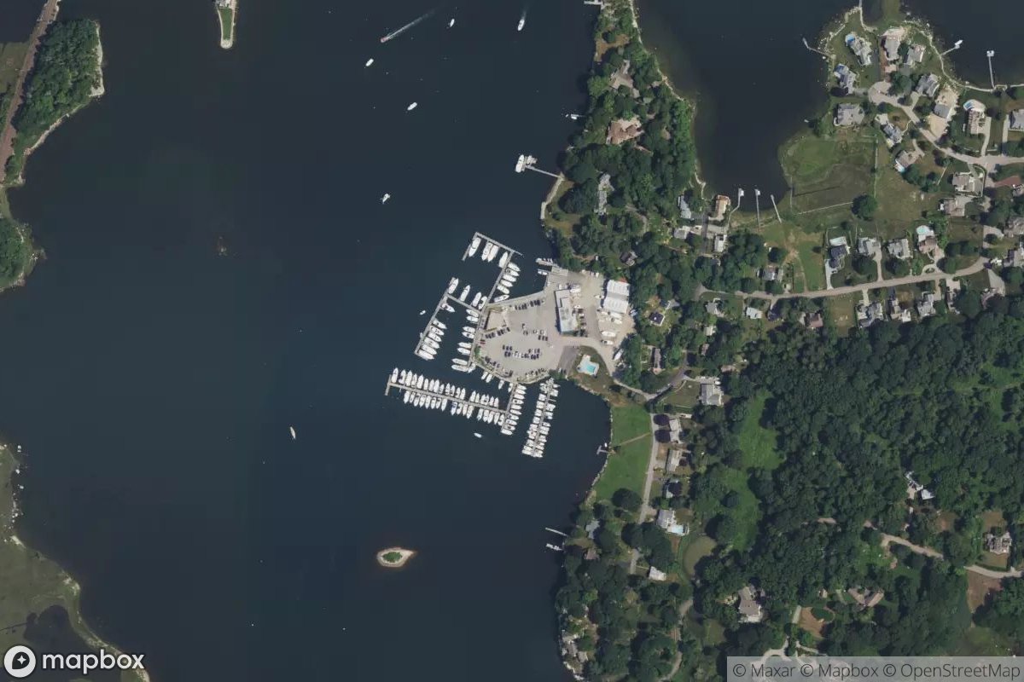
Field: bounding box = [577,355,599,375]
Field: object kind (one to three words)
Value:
swimming pool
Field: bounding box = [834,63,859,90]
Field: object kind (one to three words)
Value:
house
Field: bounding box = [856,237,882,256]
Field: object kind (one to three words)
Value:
house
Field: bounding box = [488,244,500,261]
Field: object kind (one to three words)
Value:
boat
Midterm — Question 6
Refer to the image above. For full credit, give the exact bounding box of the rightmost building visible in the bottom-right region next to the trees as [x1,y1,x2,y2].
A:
[984,531,1011,553]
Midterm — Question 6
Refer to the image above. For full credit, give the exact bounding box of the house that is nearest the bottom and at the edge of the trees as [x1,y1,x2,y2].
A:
[562,635,588,663]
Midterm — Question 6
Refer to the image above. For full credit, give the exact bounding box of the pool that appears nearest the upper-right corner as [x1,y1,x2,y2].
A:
[963,99,986,111]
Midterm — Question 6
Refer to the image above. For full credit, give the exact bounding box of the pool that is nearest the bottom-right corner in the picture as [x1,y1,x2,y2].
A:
[672,522,689,536]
